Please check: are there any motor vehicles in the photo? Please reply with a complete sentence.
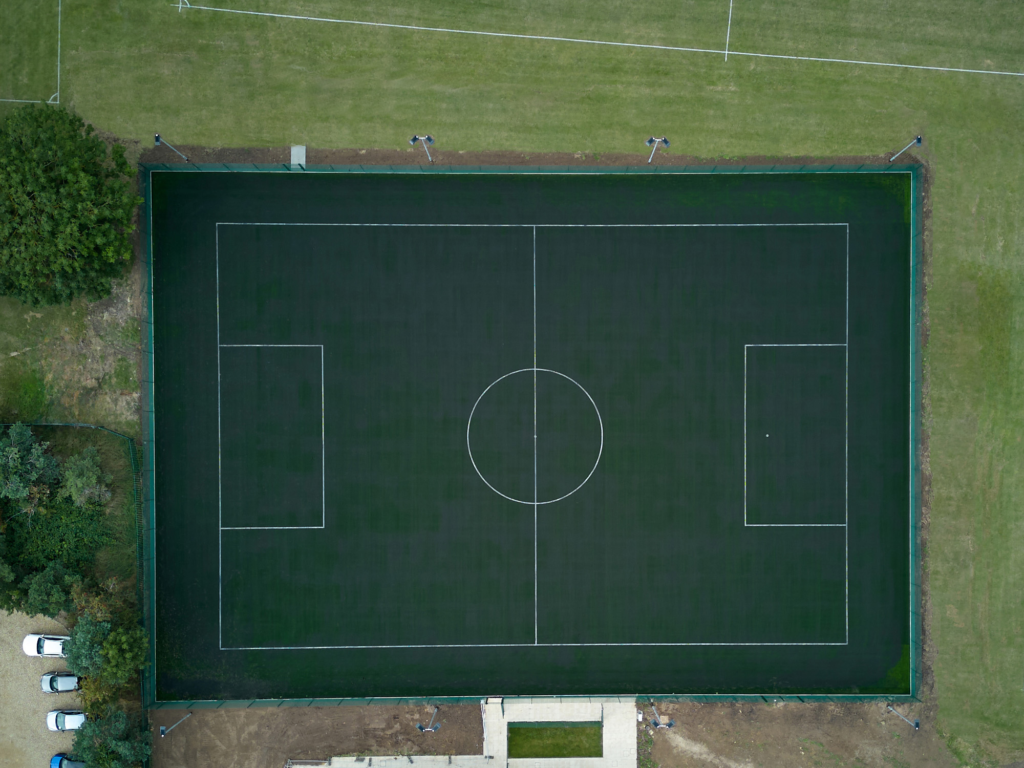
Yes, looking at the shot, I can spot a motor vehicle.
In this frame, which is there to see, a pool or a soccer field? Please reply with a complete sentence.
There is a soccer field in the scene.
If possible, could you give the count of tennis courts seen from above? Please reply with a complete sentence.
The count of tennis courts is 0.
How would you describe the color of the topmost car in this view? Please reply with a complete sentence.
The color of the topmost car is white.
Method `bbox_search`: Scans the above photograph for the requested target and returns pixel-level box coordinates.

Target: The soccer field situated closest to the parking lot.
[151,171,912,702]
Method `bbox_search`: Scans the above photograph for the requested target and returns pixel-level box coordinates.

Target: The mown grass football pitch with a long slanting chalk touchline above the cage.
[170,0,1024,75]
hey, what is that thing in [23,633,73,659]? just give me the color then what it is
white car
